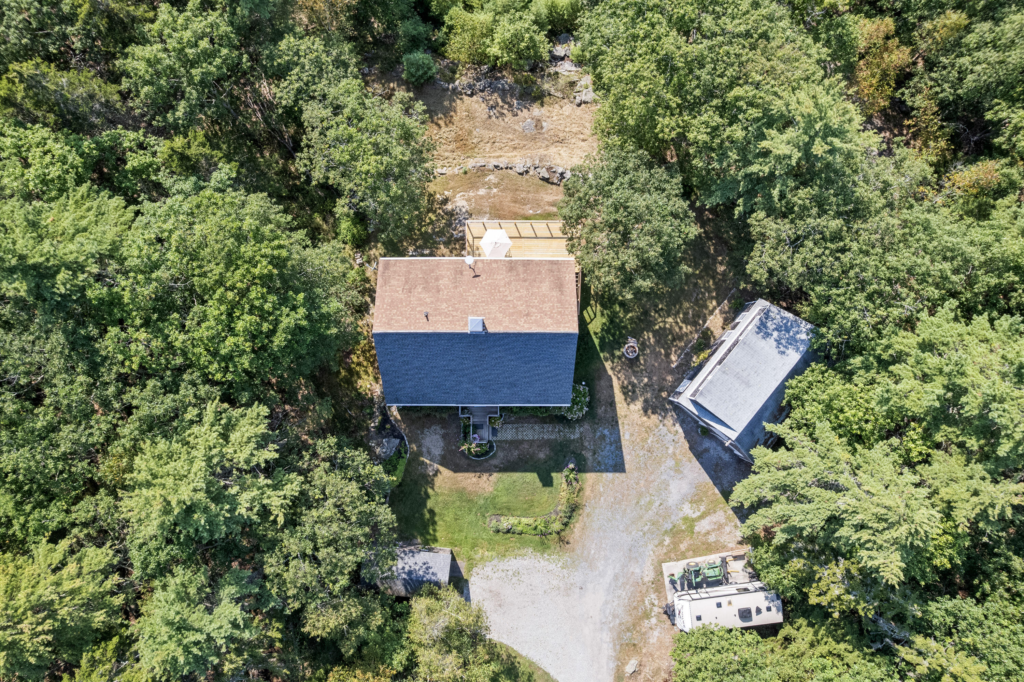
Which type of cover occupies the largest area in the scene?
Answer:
trees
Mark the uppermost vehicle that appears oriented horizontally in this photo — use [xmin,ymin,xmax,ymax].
[670,555,736,587]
